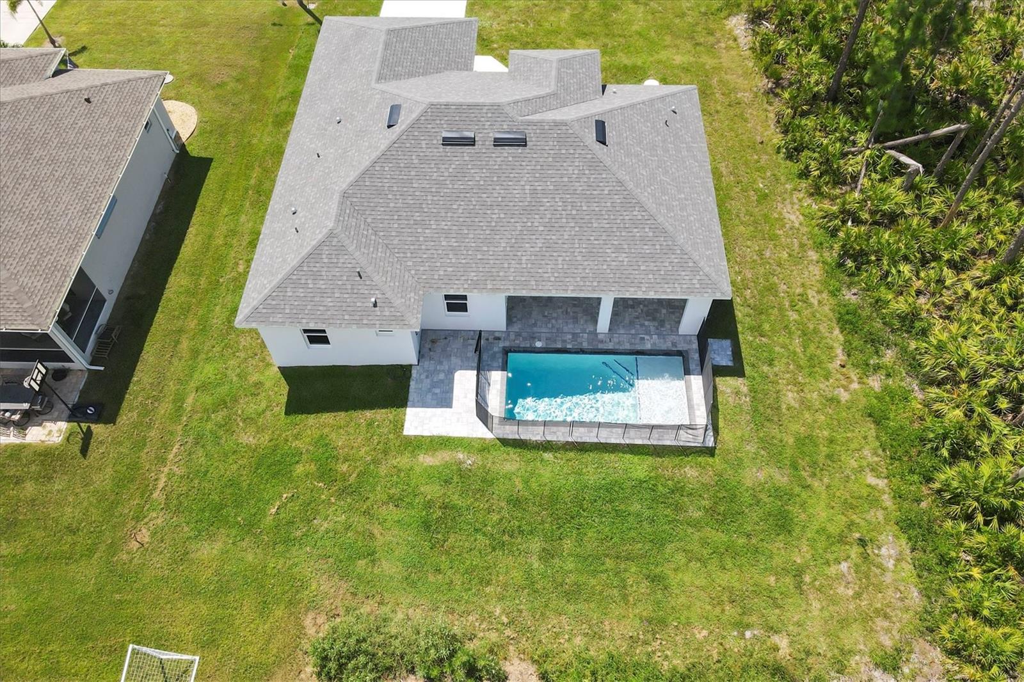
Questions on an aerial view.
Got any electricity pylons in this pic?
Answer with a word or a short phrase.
No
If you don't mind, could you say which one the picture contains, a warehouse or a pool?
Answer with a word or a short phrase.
pool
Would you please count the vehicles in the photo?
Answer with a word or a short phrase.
0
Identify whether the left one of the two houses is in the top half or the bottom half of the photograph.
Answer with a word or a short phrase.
top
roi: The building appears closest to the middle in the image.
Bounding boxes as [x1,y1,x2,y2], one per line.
[237,16,731,368]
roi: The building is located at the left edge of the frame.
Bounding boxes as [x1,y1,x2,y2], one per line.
[0,47,178,372]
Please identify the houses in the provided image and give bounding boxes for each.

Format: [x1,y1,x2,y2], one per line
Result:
[0,47,178,372]
[237,16,731,368]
